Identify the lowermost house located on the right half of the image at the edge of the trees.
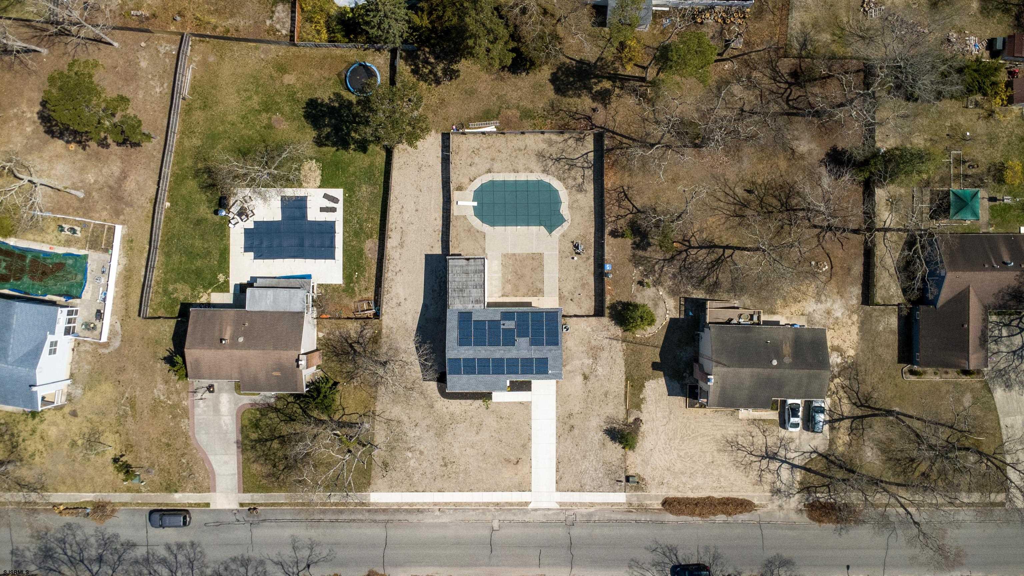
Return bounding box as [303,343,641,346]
[693,326,830,409]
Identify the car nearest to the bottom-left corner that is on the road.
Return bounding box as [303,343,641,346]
[147,511,189,532]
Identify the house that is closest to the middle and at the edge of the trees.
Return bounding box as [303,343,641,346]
[445,256,563,393]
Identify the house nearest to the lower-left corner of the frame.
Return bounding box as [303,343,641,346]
[0,287,80,417]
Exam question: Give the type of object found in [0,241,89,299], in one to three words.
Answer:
swimming pool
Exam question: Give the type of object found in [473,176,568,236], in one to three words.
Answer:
swimming pool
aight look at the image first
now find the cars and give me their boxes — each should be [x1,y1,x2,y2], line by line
[785,400,805,432]
[809,398,829,432]
[147,511,189,532]
[671,564,711,576]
